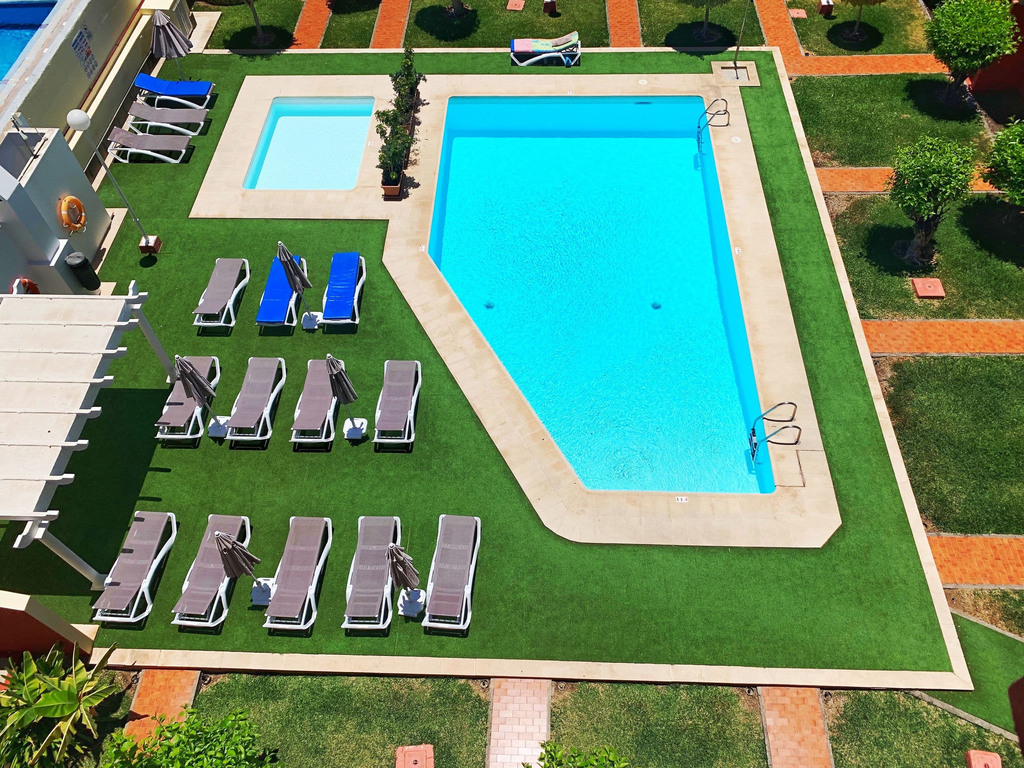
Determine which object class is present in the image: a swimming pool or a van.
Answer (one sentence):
Looking from above, you can make out a swimming pool.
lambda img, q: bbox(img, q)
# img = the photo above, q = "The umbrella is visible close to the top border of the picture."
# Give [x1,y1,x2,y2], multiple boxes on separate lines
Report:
[147,10,194,80]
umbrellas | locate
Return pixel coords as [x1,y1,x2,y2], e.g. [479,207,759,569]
[282,242,325,331]
[380,542,426,616]
[323,354,368,440]
[171,356,233,439]
[147,10,194,80]
[210,531,279,605]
